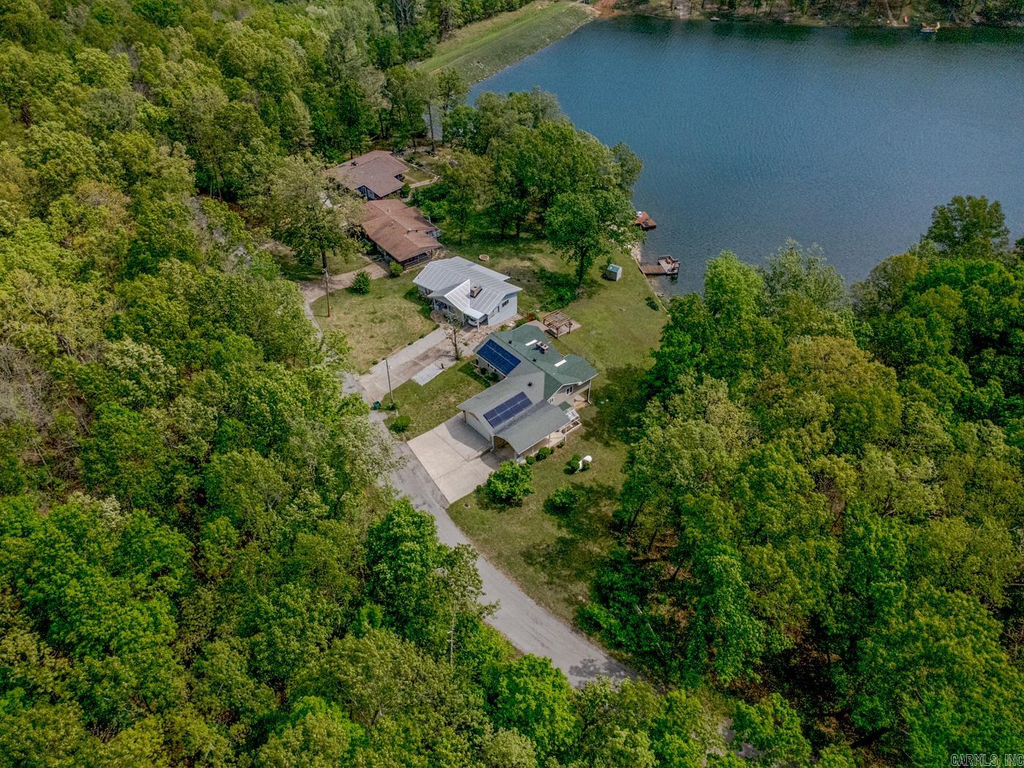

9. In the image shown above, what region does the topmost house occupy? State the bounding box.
[318,151,416,202]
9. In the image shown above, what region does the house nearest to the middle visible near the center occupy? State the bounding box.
[457,326,599,468]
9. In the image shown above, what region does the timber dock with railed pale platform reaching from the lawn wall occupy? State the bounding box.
[648,254,681,277]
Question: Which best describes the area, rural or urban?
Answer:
rural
